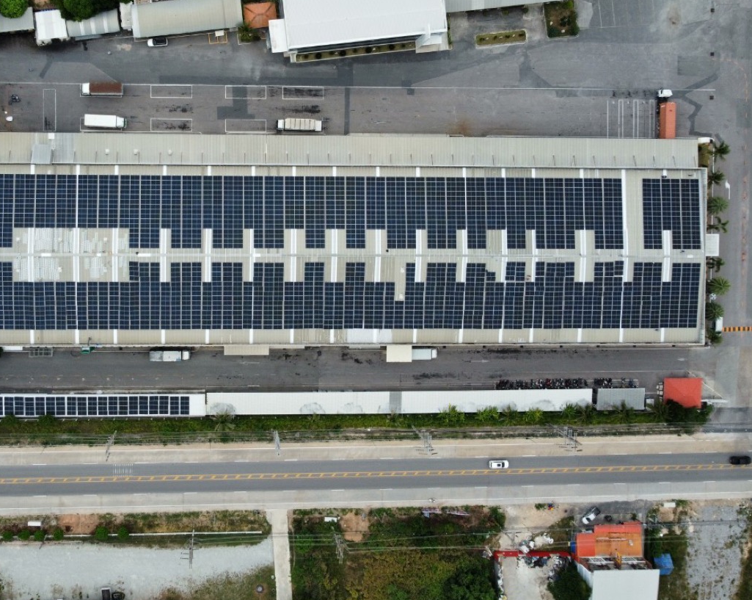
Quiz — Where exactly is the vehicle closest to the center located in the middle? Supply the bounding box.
[412,348,437,360]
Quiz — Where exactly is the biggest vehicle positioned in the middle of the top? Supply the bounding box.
[277,119,323,131]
